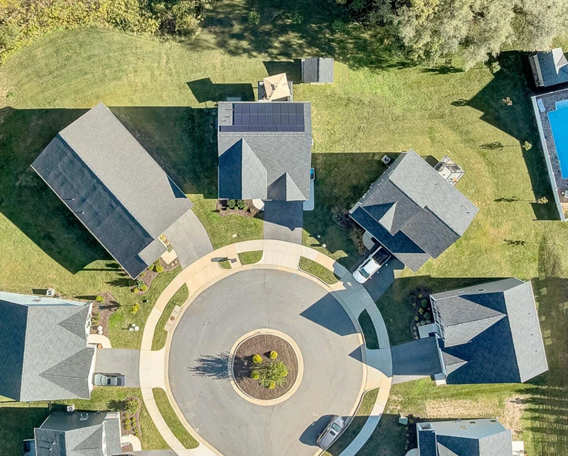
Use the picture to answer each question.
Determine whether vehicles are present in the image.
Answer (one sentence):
Yes, this view includes a vehicle.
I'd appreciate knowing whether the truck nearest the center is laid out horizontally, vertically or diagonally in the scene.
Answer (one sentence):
The truck nearest the center has been laid out diagonally relative to the frame.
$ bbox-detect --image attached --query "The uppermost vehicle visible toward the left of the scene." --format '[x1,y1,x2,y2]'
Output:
[95,372,126,387]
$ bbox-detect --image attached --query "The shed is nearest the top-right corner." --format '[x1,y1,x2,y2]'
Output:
[530,48,568,87]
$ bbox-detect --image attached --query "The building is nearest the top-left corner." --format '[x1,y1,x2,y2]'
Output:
[31,101,196,279]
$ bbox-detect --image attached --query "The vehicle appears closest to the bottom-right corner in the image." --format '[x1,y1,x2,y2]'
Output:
[317,414,343,450]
